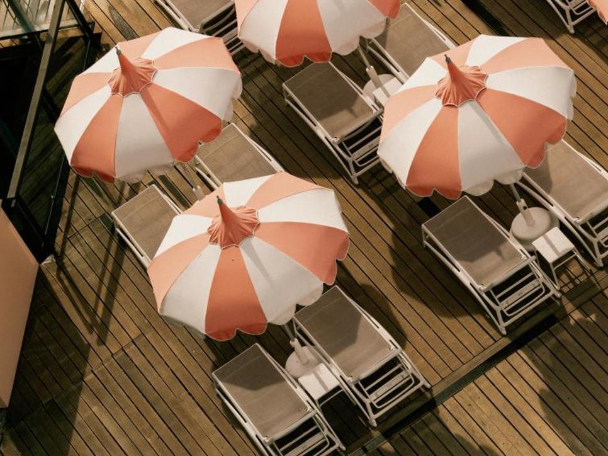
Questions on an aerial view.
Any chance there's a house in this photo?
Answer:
No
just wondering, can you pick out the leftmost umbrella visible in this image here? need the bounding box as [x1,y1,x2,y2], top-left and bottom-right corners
[52,22,242,201]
